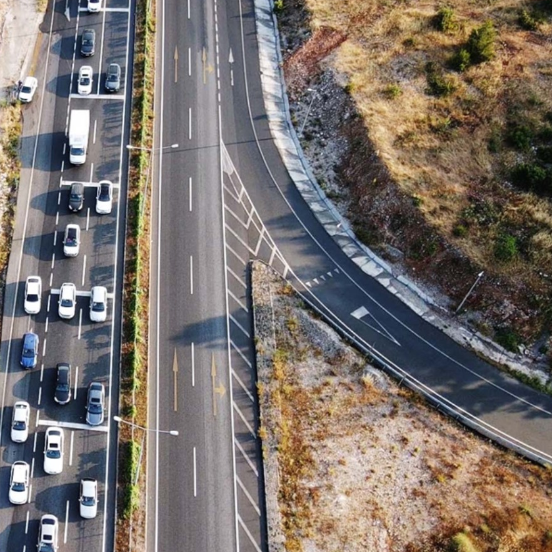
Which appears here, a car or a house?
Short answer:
car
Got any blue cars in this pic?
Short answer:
Yes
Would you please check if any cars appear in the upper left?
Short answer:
Yes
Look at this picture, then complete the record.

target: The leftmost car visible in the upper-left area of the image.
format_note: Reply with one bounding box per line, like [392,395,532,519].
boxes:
[16,77,39,103]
